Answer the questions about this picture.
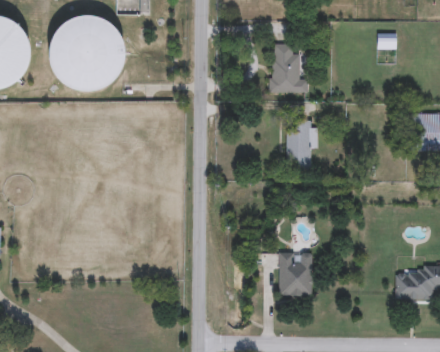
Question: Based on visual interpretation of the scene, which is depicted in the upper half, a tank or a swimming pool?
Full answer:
You can see a tank in the upper half.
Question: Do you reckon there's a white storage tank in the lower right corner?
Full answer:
No, I see no white storage tank in the lower right corner.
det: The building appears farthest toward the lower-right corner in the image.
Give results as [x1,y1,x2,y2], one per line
[396,264,440,299]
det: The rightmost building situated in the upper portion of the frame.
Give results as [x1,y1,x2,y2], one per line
[418,114,440,152]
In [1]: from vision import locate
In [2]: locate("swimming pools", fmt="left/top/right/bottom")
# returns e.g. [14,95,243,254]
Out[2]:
[402,226,431,245]
[292,218,318,252]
